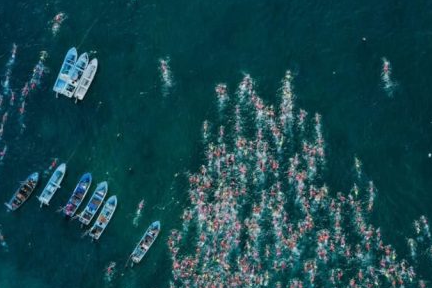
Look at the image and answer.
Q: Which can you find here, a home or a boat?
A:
boat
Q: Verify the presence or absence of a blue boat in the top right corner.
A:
No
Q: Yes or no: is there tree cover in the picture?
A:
No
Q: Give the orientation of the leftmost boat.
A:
diagonally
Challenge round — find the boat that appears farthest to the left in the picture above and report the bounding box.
[2,171,37,211]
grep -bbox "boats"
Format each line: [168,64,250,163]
[2,171,37,211]
[76,180,106,225]
[129,219,160,264]
[35,162,65,206]
[73,57,96,101]
[86,195,116,240]
[60,171,90,217]
[63,51,86,97]
[50,45,74,92]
